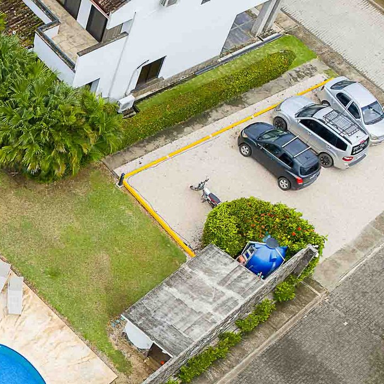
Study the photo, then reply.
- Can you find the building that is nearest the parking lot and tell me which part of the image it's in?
bottom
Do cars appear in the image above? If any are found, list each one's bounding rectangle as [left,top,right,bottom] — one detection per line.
[324,74,384,147]
[236,119,330,194]
[270,93,373,171]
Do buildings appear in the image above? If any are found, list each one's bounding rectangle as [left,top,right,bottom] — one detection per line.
[122,241,263,379]
[0,0,292,112]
